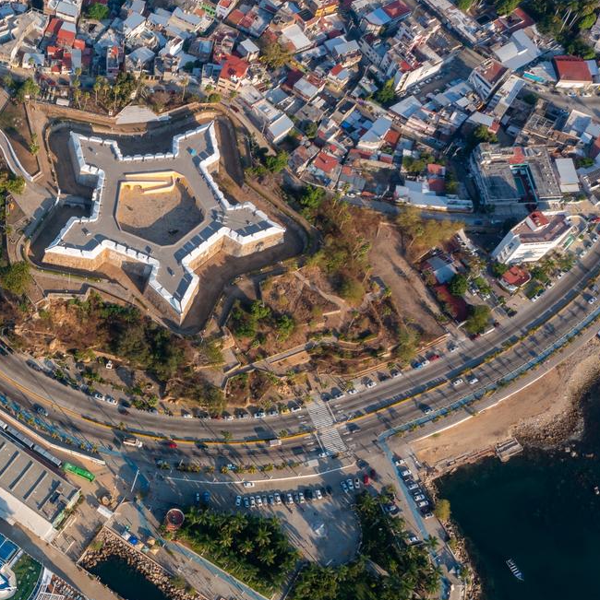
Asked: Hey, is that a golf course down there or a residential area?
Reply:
residential area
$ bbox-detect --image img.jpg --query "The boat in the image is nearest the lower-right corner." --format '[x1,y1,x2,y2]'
[505,560,523,580]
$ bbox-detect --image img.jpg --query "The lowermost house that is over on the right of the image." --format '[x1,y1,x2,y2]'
[432,288,475,325]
